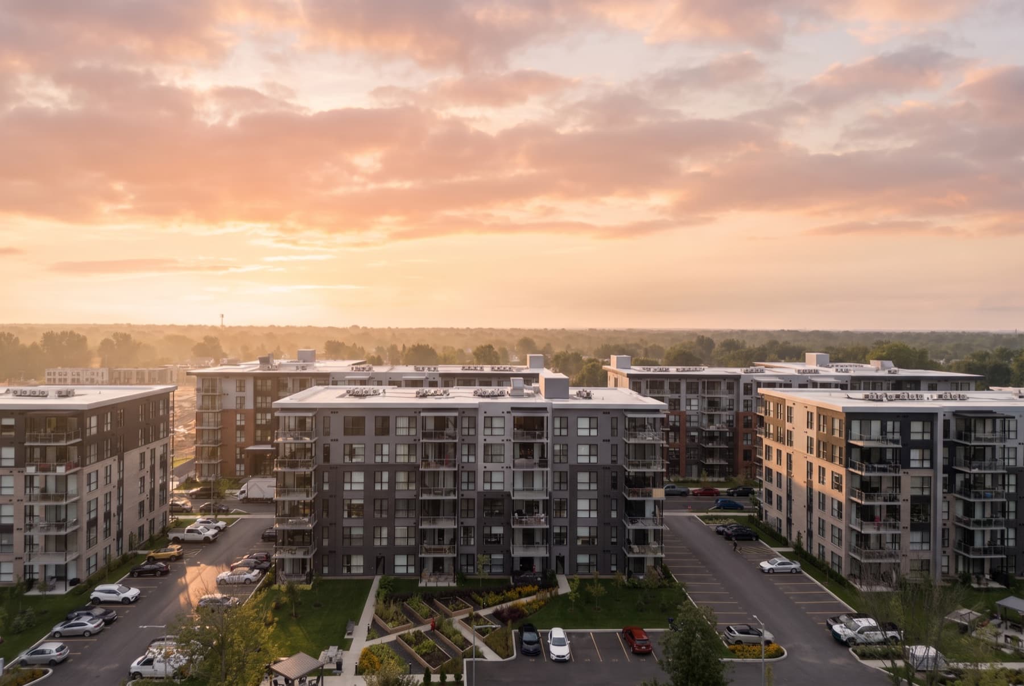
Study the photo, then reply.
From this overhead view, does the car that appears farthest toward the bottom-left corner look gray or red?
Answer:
gray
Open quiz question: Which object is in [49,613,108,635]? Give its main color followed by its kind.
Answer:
gray car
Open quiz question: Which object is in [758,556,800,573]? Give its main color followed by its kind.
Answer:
gray car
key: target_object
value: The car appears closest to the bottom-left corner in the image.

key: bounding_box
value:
[14,639,74,664]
